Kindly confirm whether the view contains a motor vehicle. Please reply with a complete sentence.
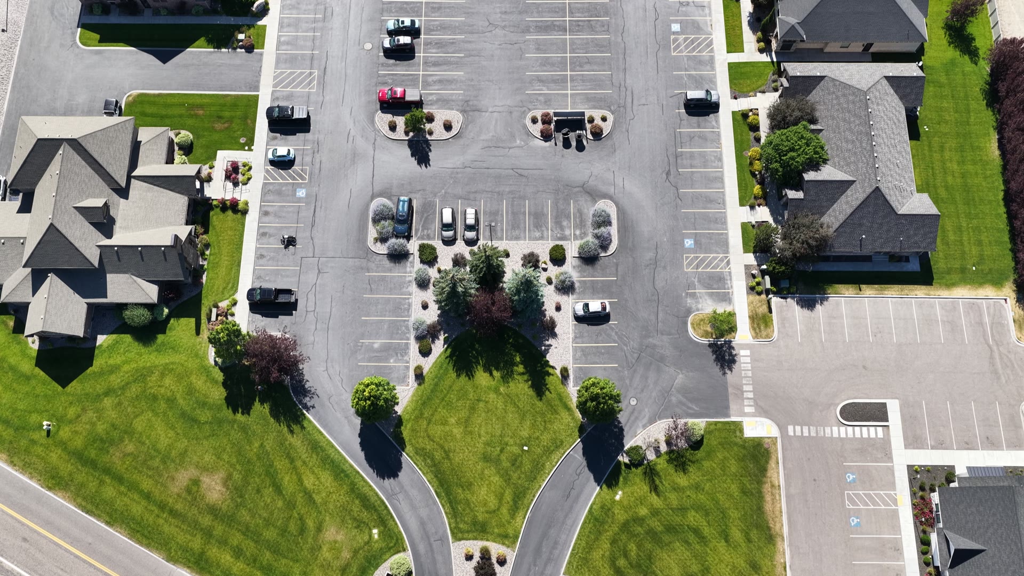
Yes, the image includes a motor vehicle.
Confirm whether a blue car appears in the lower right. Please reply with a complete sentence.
No, there's no blue car to be seen in the lower right.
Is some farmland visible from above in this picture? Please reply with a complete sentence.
No, there's no farmland in this view.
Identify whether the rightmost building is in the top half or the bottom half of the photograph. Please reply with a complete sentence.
The bottom half of the photo is where the rightmost building is.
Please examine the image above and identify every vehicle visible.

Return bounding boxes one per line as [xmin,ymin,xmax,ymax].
[463,210,479,244]
[387,22,421,37]
[104,95,123,116]
[383,38,415,54]
[378,88,424,108]
[0,172,8,201]
[394,201,411,237]
[439,208,456,244]
[268,149,296,164]
[683,93,719,110]
[266,104,311,124]
[247,286,298,306]
[573,303,610,319]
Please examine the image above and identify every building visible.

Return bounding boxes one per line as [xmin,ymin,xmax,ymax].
[0,116,203,337]
[774,0,929,53]
[921,466,1024,576]
[71,0,207,15]
[777,63,941,258]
